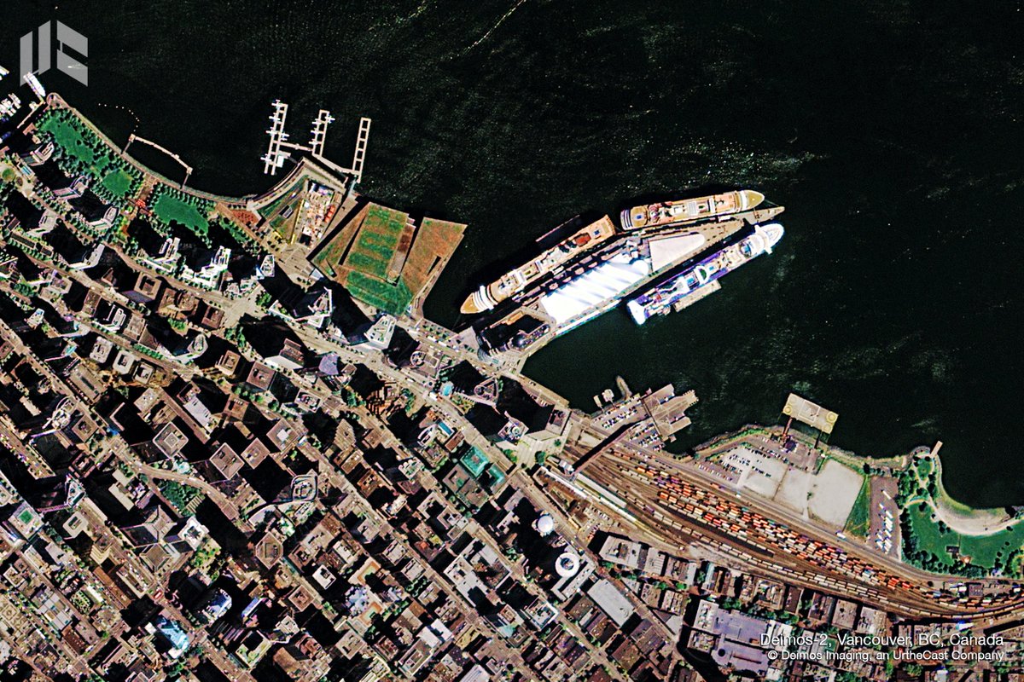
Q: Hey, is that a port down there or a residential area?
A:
port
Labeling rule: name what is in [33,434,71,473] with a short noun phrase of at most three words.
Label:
building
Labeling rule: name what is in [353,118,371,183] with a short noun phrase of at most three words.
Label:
pier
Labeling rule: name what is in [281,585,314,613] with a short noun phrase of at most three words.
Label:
building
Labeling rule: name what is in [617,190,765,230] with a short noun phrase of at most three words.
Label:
ship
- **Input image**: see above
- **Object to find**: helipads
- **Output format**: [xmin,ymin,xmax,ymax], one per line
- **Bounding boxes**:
[782,393,838,434]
